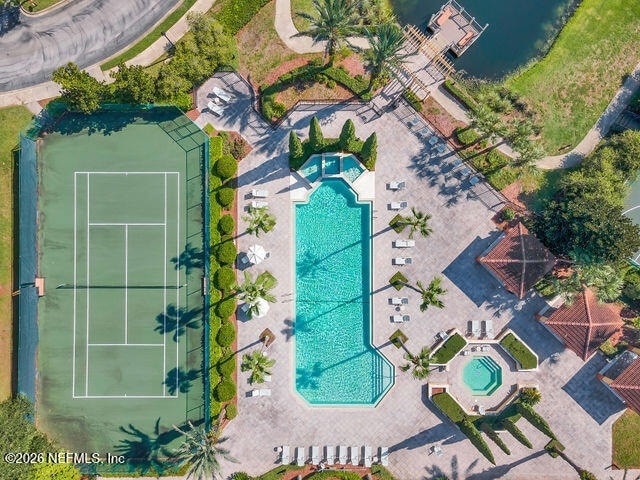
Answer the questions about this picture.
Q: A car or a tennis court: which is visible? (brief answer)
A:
tennis court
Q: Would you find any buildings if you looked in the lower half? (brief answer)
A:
Yes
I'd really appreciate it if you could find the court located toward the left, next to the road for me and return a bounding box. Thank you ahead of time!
[36,112,209,458]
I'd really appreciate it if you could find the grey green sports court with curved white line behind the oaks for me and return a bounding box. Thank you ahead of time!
[614,161,640,271]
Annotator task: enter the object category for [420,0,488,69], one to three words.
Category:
pier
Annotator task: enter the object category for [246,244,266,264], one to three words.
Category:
umbrella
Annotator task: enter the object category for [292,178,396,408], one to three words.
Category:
swimming pool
